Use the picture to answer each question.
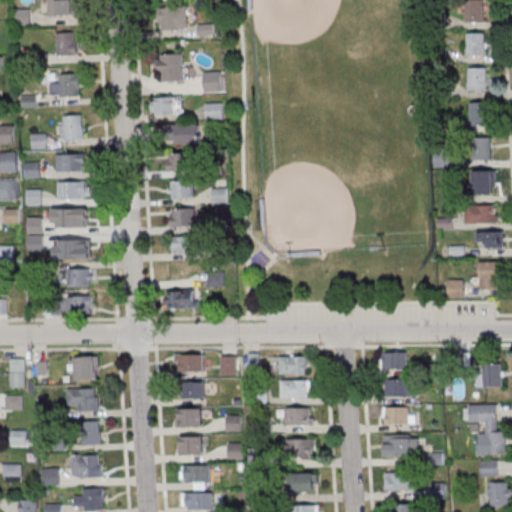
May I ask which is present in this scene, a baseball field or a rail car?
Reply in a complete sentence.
The one in the frame is a baseball field.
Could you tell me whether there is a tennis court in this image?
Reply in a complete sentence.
No, no tennis court is visible in the view.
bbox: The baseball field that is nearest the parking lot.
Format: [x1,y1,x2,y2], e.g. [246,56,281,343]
[246,44,431,258]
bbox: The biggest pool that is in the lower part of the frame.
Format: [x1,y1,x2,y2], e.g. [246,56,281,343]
[452,376,466,401]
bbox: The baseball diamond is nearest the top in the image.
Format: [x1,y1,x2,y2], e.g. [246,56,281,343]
[246,0,405,105]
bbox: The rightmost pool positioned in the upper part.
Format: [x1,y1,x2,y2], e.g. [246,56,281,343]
[194,53,214,68]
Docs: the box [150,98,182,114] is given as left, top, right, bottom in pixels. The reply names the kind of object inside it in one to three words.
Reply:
house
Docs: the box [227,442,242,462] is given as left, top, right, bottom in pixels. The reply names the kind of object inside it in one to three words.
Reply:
building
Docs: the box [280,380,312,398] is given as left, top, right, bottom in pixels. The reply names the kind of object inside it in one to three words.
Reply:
house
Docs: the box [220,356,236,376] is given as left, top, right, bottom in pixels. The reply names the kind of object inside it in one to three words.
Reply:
building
